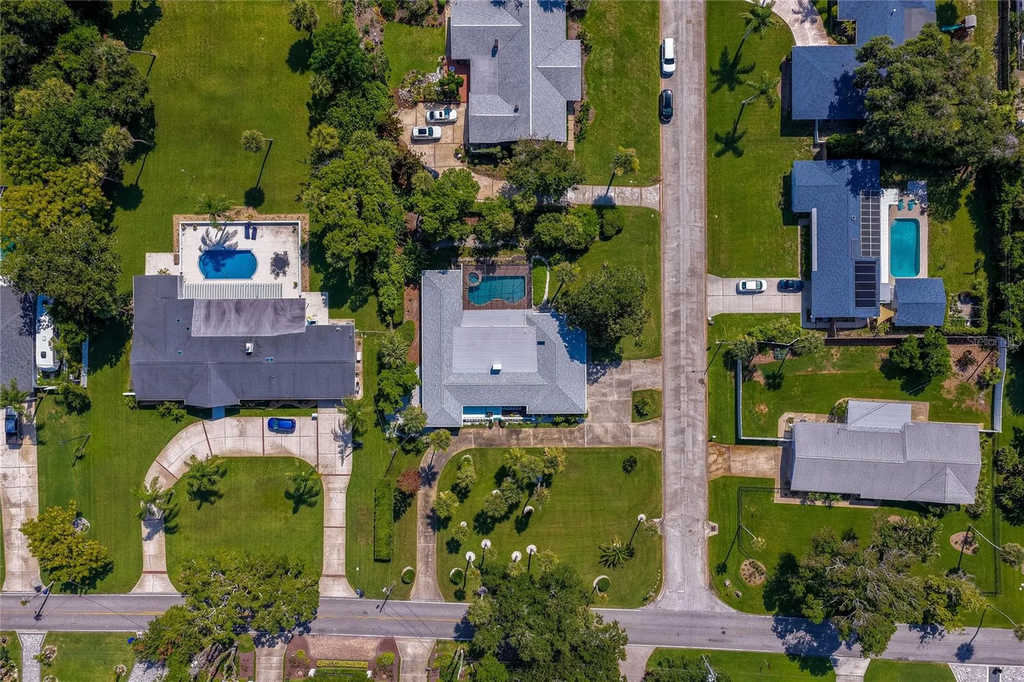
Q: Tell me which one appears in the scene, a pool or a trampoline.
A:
pool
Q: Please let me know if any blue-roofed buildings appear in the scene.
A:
Yes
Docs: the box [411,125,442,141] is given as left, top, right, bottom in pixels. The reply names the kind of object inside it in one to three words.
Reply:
car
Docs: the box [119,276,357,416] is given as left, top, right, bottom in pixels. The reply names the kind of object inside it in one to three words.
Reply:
house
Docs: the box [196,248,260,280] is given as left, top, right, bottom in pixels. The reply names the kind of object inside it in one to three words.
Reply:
swimming pool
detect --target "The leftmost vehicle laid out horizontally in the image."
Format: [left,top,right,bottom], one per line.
[268,418,297,432]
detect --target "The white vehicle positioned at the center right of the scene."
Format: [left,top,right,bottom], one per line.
[736,279,766,293]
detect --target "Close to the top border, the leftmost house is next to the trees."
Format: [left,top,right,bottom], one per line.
[451,0,581,146]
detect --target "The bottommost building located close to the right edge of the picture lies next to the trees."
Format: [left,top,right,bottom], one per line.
[788,401,981,504]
